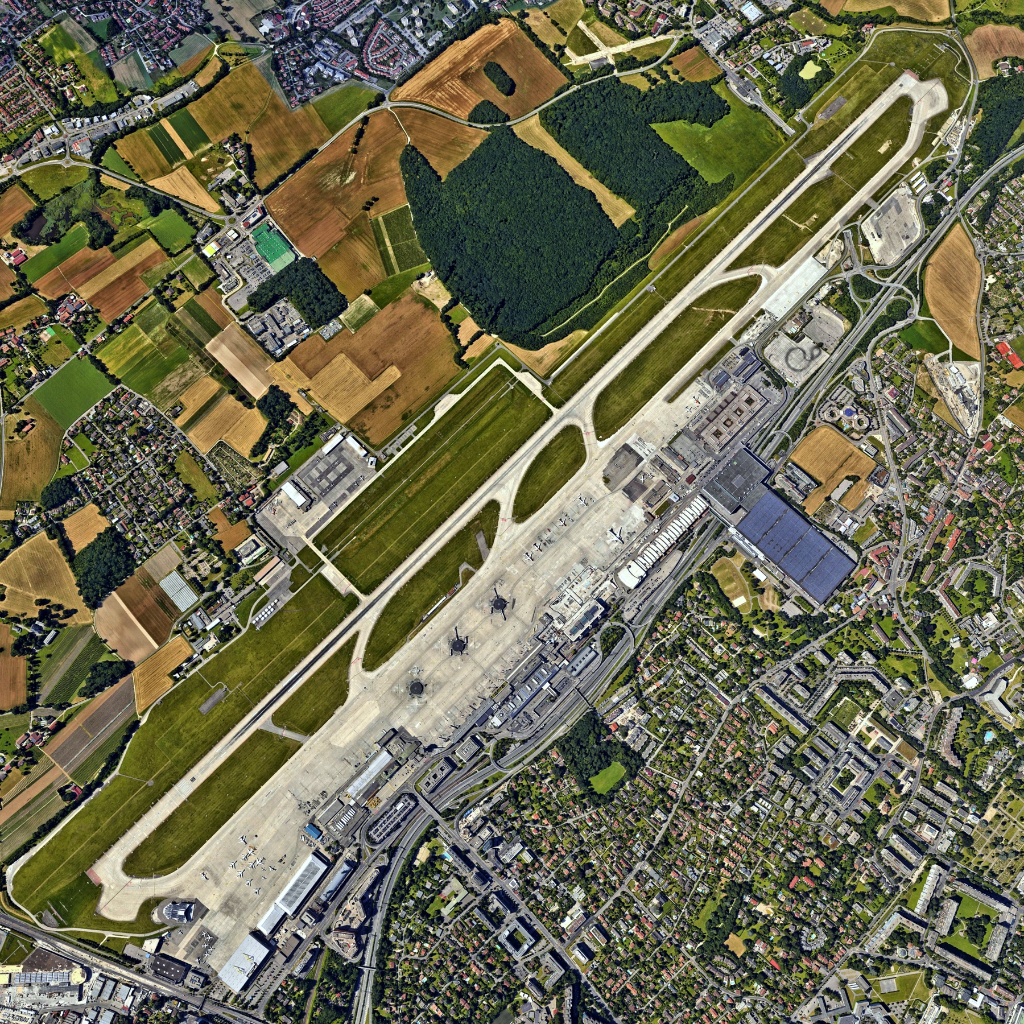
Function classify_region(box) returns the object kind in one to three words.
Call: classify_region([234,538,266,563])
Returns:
building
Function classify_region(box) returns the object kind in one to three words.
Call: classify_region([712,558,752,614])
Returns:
sports field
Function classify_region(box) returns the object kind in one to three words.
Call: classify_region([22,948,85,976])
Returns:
building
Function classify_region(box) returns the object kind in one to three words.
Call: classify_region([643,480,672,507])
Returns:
hangar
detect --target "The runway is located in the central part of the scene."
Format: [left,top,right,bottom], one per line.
[86,67,920,886]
